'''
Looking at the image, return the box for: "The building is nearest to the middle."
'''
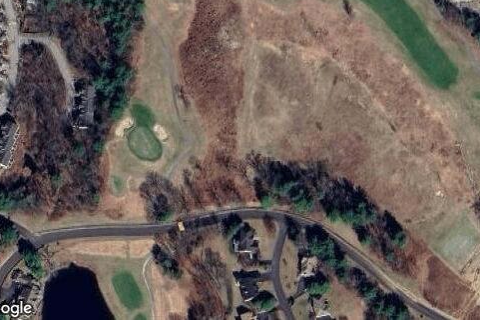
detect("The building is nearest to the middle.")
[236,223,260,254]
